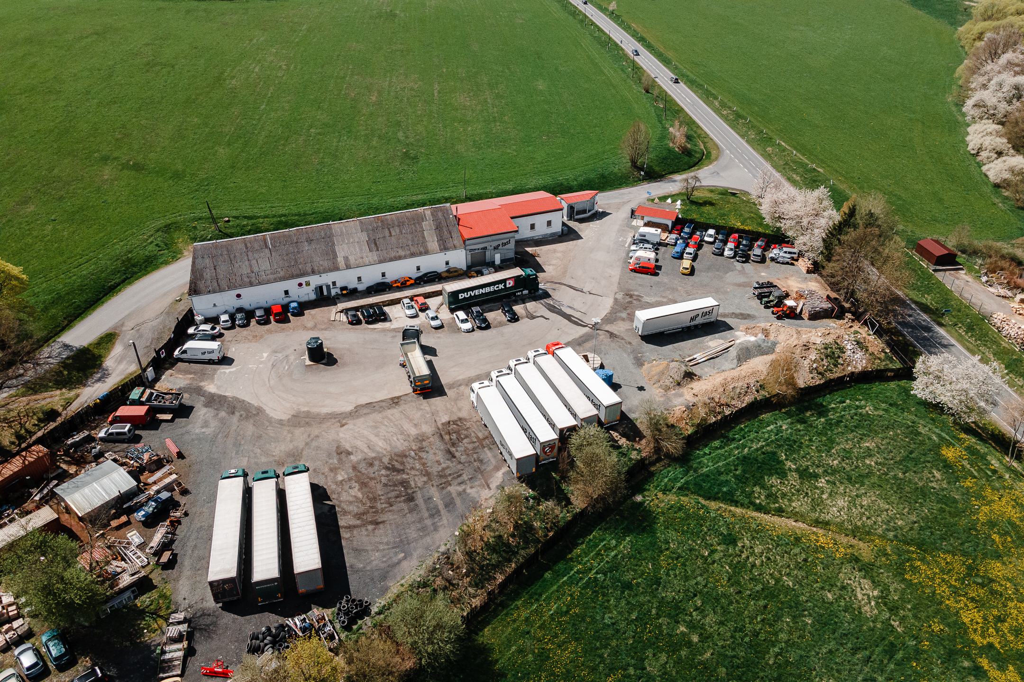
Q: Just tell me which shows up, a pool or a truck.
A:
truck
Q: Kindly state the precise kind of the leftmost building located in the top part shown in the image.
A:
warehouse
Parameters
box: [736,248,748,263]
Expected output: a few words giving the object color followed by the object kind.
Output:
black vehicle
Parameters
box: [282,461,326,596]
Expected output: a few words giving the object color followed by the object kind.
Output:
white truck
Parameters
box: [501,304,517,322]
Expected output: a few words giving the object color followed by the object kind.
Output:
black car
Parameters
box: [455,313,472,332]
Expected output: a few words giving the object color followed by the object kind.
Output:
white car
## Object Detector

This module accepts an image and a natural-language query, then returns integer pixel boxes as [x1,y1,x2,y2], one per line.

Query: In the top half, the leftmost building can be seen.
[187,204,464,316]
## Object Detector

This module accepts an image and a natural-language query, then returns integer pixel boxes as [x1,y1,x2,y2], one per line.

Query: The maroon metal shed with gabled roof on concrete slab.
[914,237,965,269]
